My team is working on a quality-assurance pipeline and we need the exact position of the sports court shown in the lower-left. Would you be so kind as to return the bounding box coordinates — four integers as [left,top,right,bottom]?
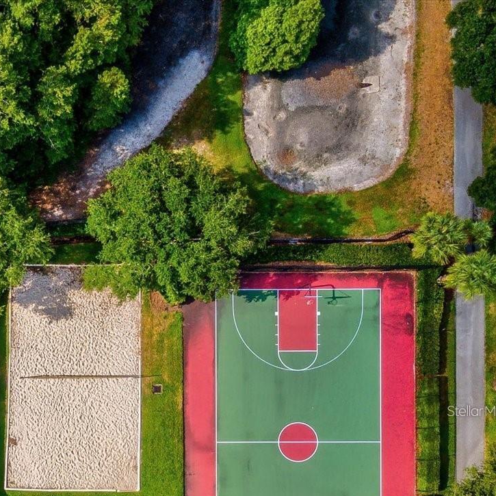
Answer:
[4,264,142,494]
